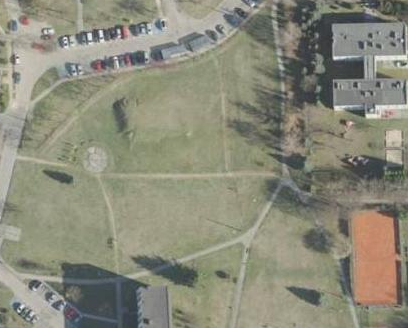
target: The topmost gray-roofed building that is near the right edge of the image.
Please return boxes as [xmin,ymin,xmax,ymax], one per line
[327,23,406,62]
